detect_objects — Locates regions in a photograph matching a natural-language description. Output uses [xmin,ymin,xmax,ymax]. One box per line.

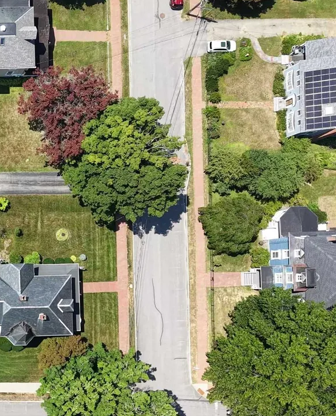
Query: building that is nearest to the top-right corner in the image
[272,38,336,137]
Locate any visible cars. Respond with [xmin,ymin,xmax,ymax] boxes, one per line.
[169,0,184,12]
[206,39,236,54]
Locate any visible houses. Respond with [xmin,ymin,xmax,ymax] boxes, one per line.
[272,38,336,137]
[0,260,83,346]
[0,0,51,79]
[240,205,336,317]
